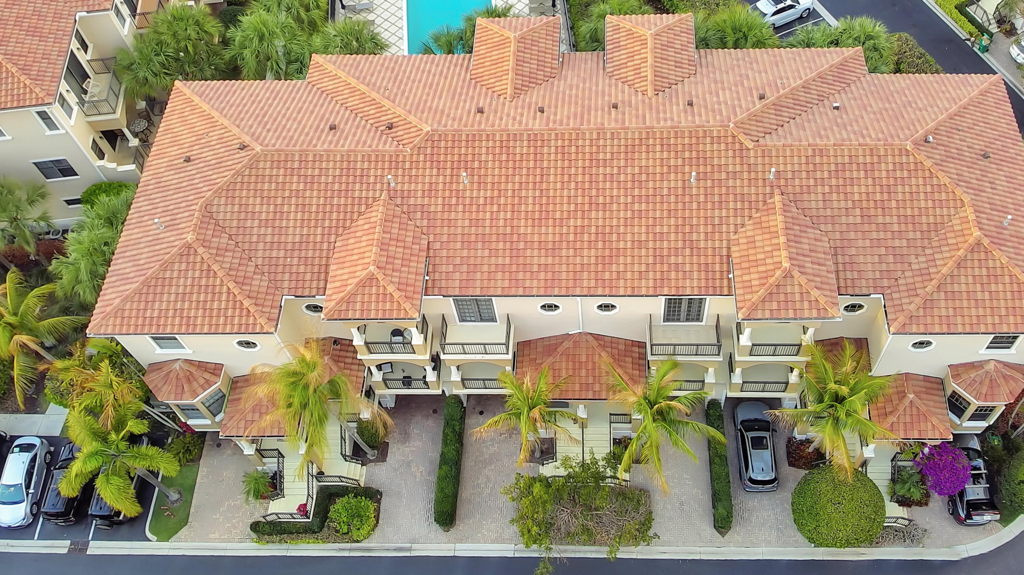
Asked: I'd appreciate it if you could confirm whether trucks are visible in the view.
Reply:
No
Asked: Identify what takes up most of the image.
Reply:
buildings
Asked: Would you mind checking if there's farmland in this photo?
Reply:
No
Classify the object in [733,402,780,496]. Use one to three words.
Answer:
car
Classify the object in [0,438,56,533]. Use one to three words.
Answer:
car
